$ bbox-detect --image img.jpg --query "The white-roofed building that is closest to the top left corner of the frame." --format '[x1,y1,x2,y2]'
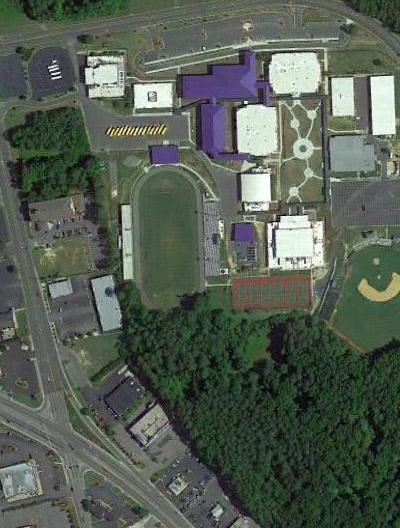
[86,56,125,97]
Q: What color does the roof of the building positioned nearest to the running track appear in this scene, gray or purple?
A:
purple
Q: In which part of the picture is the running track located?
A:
center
